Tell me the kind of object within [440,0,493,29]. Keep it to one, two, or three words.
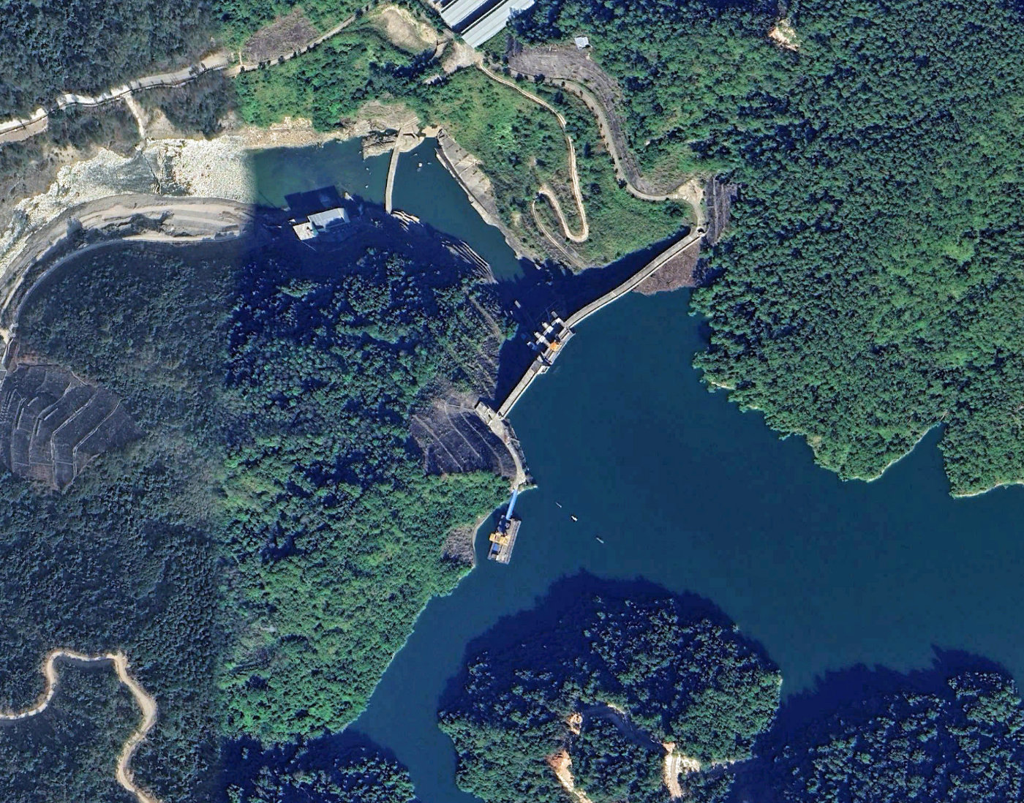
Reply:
shed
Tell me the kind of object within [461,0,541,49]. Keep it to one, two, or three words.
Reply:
shed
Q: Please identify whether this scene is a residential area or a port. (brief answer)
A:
port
